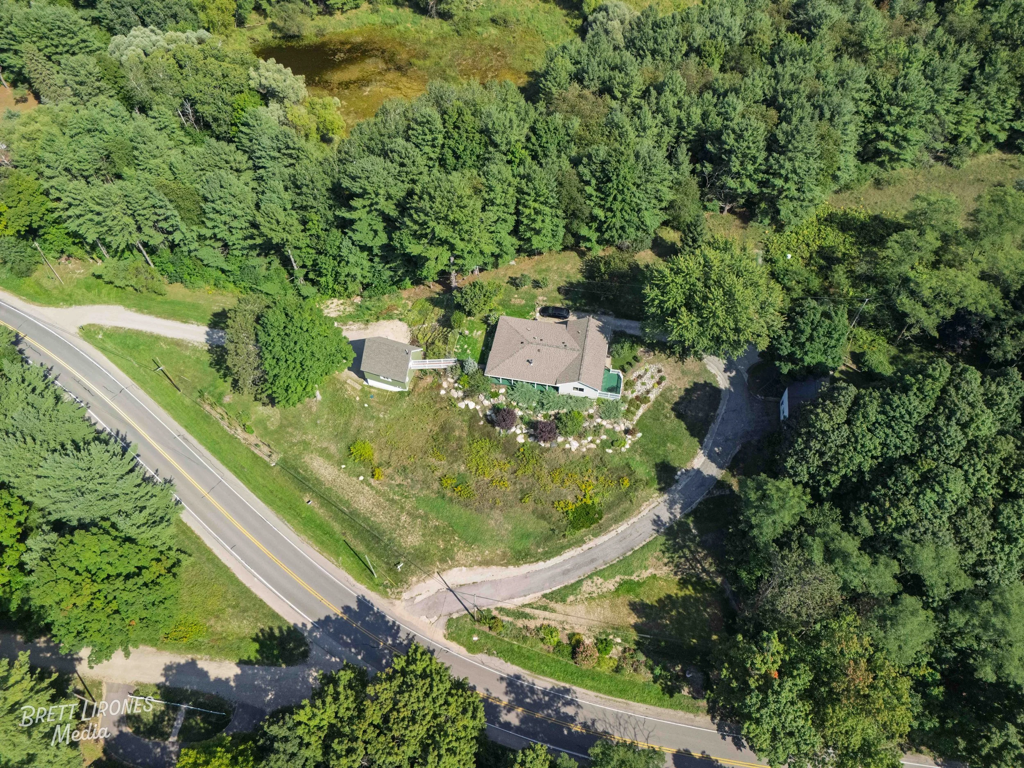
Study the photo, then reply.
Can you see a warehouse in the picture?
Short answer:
No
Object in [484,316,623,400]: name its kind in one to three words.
house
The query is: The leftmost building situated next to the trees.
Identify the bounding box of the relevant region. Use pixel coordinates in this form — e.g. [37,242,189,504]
[360,336,424,390]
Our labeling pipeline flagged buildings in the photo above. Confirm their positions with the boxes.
[360,336,424,390]
[484,316,623,400]
[780,386,843,446]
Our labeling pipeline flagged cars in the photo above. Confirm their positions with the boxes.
[540,306,569,320]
